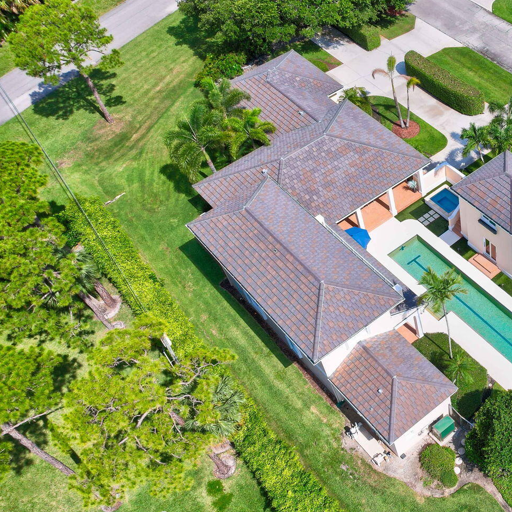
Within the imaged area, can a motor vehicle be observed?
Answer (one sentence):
No, I can't see a single motor vehicle in this photo.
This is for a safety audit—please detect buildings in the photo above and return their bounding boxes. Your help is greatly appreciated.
[185,49,459,458]
[448,148,512,279]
